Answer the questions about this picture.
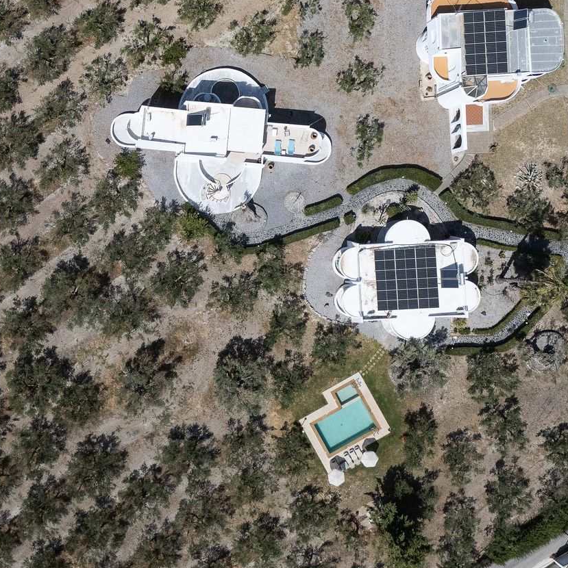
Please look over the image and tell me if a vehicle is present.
No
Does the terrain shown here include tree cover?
Yes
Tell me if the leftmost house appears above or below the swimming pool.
above it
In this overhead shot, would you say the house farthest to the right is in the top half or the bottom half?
top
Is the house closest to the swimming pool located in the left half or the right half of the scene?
right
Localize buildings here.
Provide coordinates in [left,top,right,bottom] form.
[331,218,480,340]
[414,0,564,154]
[111,67,332,214]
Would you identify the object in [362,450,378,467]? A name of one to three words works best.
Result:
umbrella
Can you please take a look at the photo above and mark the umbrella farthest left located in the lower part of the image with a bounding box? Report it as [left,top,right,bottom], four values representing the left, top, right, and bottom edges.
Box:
[327,469,344,486]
